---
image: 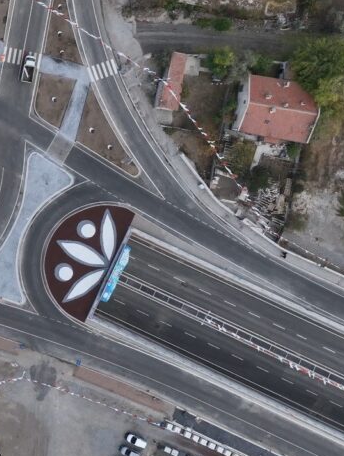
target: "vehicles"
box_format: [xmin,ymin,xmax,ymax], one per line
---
[126,433,149,450]
[179,449,191,456]
[120,445,141,456]
[21,53,37,83]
